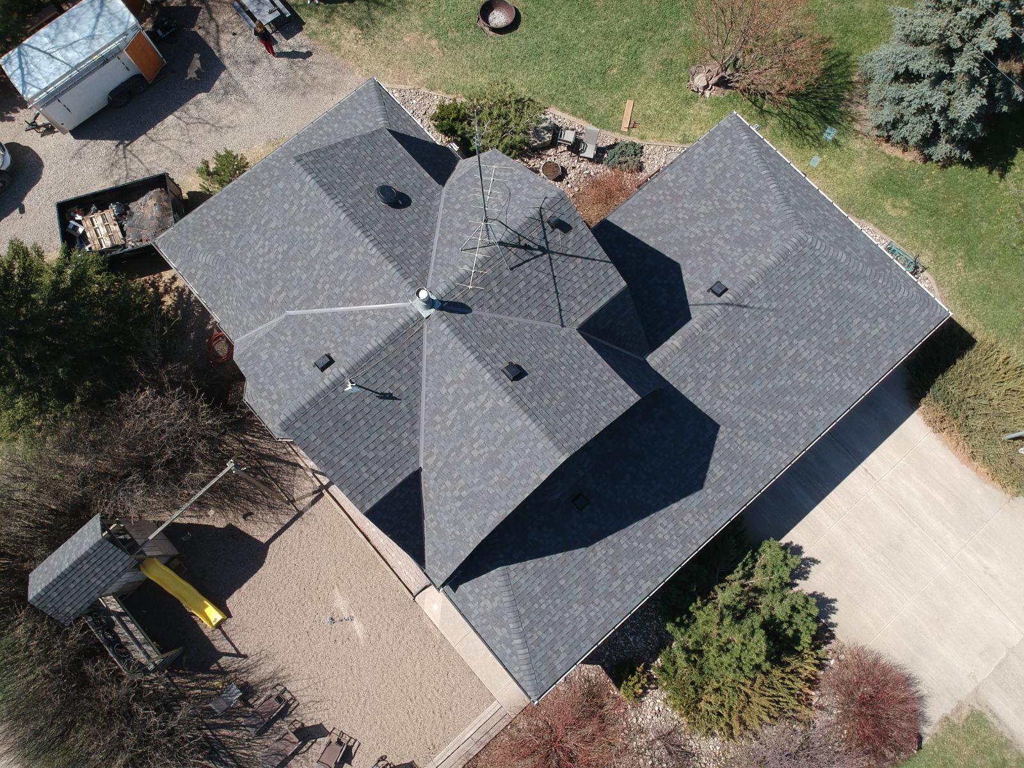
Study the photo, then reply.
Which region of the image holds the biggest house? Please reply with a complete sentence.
The biggest house sits in the center section of the image.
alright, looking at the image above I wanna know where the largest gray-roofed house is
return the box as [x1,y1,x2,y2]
[152,76,952,704]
